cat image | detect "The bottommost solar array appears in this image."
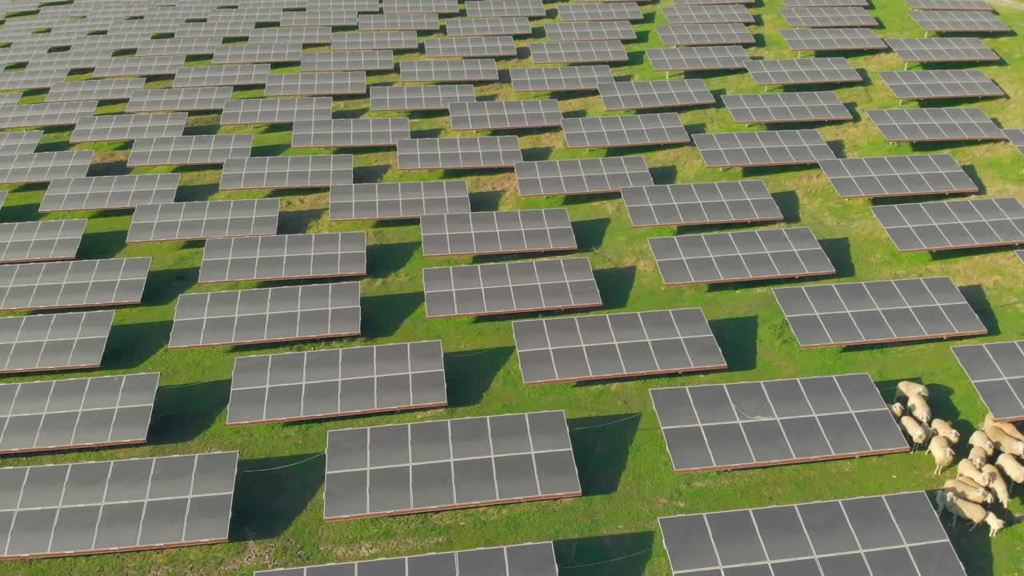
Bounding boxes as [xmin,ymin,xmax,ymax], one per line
[255,542,557,576]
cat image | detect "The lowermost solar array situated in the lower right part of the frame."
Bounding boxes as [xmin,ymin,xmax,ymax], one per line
[659,491,967,576]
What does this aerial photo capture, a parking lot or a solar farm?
solar farm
